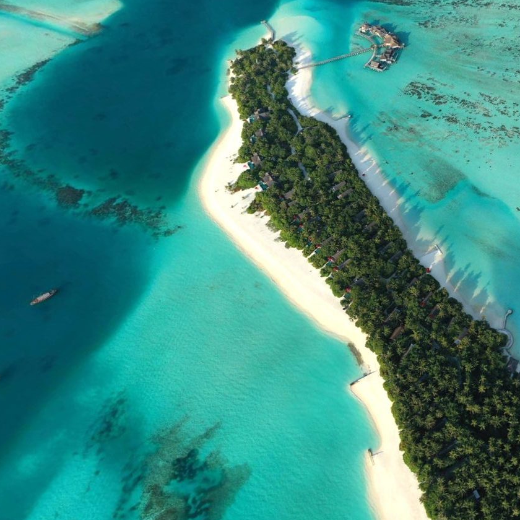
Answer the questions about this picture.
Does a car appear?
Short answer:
No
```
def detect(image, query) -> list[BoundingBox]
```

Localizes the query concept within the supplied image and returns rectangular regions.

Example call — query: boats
[29,289,56,304]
